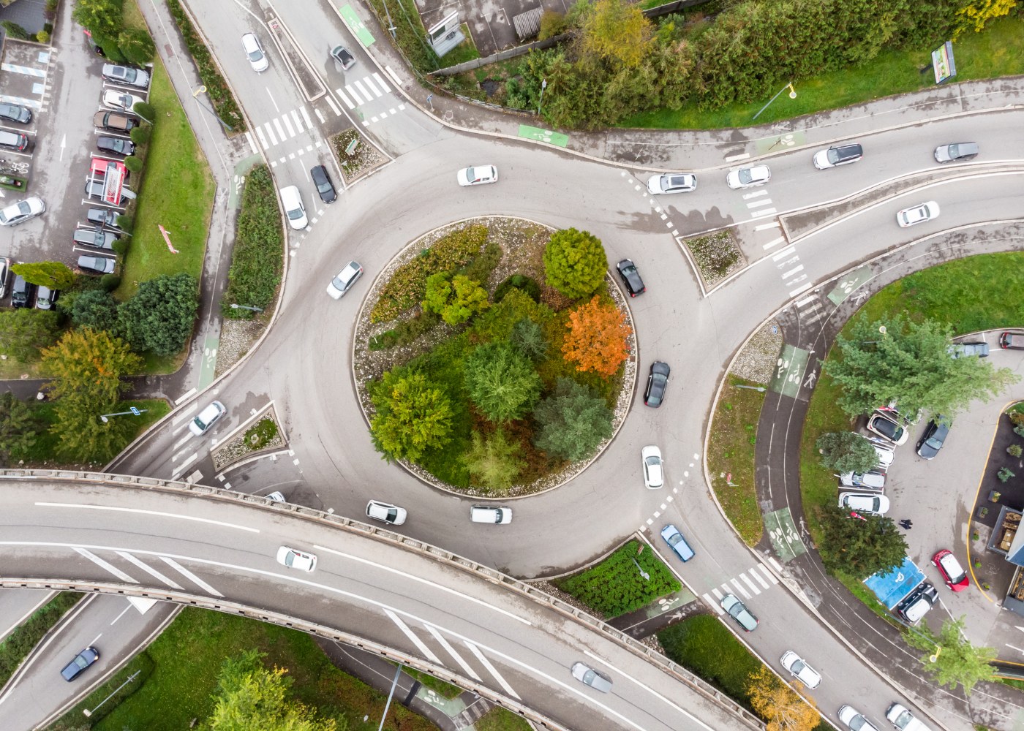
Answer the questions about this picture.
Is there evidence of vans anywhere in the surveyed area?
Yes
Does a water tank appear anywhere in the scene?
No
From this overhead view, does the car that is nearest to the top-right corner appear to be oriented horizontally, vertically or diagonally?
horizontally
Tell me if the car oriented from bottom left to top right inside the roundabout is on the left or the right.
left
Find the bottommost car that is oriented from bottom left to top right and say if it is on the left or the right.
left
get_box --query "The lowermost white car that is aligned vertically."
[641,445,663,490]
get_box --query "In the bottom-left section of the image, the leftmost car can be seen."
[57,644,101,686]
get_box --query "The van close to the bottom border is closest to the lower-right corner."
[882,699,929,731]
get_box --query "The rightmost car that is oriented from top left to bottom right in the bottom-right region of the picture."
[931,547,970,594]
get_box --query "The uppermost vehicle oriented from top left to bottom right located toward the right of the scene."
[615,258,647,298]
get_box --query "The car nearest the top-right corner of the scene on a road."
[931,140,981,164]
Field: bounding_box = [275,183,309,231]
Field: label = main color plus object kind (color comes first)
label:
white van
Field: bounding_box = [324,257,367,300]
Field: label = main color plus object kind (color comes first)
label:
white car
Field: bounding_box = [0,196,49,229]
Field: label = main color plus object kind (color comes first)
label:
white car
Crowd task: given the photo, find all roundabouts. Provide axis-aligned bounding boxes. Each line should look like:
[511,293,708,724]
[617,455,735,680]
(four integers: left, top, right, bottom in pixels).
[218,146,705,568]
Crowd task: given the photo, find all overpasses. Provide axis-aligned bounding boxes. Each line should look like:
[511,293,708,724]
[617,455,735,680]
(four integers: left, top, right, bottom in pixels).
[0,468,777,731]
